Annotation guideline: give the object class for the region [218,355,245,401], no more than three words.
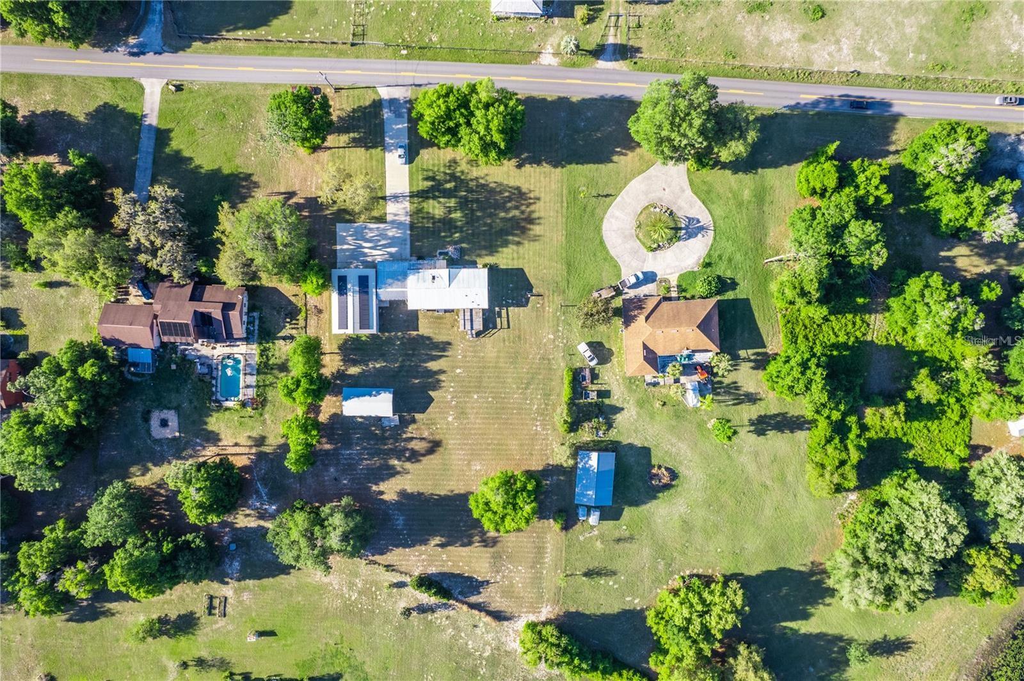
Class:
swimming pool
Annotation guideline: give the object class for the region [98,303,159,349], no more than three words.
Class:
building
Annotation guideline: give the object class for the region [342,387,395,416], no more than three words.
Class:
barn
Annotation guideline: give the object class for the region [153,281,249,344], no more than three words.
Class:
house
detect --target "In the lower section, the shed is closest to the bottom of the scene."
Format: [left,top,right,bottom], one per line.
[574,448,615,506]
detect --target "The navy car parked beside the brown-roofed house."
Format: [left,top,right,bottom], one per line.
[135,279,153,302]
